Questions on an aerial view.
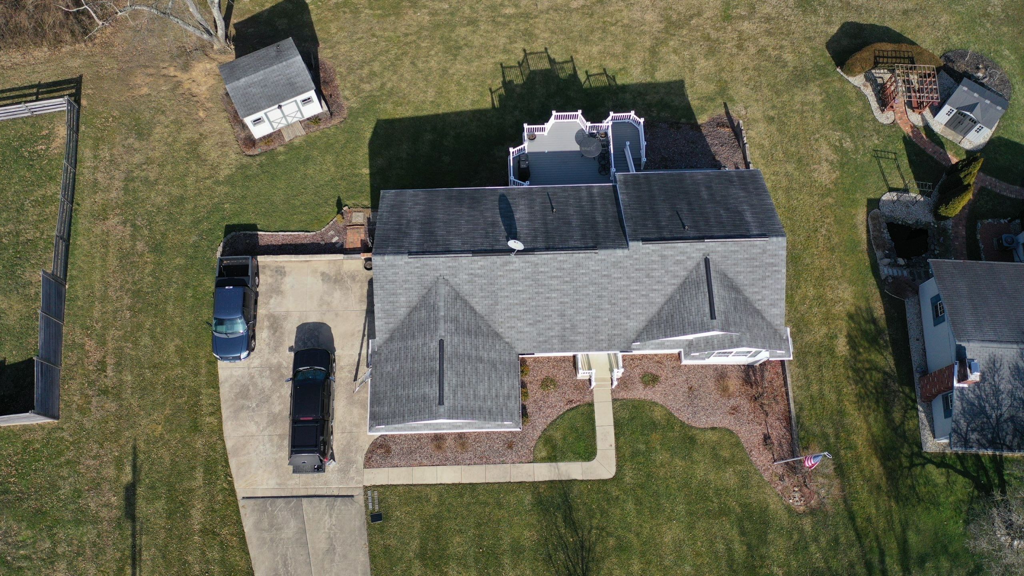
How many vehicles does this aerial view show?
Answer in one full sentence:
Looking from above, you can make out 2 vehicles.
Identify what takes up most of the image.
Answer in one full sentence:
The scene is dominated by grass.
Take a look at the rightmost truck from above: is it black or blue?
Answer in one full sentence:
The rightmost truck looks black in the image.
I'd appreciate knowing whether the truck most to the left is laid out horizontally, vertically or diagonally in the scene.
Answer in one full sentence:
I'd say the truck most to the left is aligned vertically in the picture.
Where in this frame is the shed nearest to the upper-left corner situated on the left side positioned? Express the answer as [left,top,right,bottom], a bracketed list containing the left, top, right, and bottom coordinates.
[214,36,320,141]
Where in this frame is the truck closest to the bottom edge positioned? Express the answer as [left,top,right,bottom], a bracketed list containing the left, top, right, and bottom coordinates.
[285,347,337,474]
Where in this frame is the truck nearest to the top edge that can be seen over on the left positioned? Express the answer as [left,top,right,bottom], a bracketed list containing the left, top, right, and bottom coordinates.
[206,250,260,362]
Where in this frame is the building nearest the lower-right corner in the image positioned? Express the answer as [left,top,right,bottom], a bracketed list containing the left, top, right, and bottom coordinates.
[907,255,1024,456]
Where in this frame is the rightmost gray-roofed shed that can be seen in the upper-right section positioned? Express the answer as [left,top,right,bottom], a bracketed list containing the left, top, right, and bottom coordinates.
[934,79,1009,142]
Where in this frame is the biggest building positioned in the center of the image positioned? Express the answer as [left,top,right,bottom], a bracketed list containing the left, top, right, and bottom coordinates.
[365,165,797,439]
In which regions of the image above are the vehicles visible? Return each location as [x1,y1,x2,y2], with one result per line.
[285,347,337,474]
[206,250,260,362]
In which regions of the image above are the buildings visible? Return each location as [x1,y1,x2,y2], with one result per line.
[907,255,1024,456]
[214,36,320,141]
[365,165,797,439]
[934,79,1009,142]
